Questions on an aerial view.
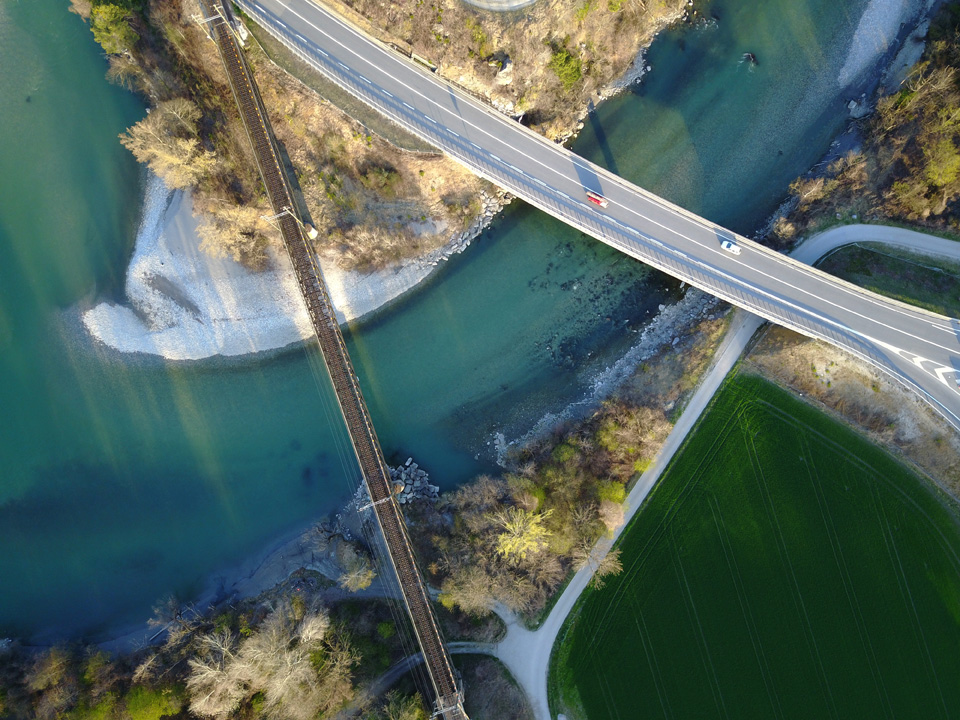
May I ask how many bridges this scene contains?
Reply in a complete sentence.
The picture shows 2 bridges.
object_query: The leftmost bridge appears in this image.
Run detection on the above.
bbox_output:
[204,10,465,707]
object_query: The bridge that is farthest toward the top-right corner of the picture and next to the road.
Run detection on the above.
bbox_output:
[472,104,806,335]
